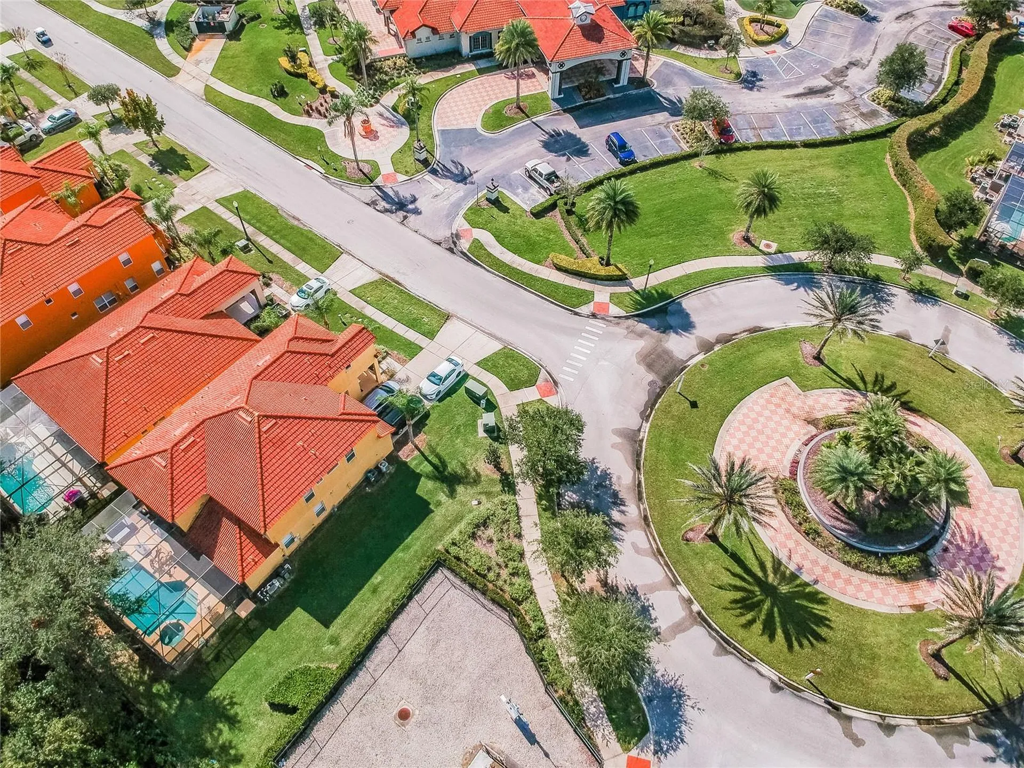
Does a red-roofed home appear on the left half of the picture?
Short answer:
Yes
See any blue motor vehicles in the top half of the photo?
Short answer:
Yes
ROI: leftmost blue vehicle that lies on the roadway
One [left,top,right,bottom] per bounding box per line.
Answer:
[607,127,635,161]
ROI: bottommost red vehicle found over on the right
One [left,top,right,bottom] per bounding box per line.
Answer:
[712,112,736,140]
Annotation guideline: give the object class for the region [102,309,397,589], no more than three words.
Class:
house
